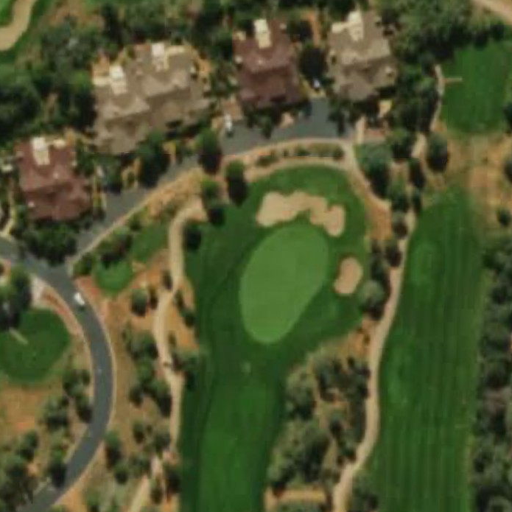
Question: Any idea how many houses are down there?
4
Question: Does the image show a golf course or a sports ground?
golf course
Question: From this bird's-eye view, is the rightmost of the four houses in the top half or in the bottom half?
top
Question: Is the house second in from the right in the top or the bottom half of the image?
top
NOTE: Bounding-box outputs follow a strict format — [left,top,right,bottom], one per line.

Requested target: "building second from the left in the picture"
[86,39,216,154]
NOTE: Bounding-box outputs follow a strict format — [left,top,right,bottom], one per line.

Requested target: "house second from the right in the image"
[234,16,301,108]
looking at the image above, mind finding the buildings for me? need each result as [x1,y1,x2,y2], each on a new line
[327,6,400,101]
[234,16,301,108]
[2,135,93,223]
[86,39,216,154]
